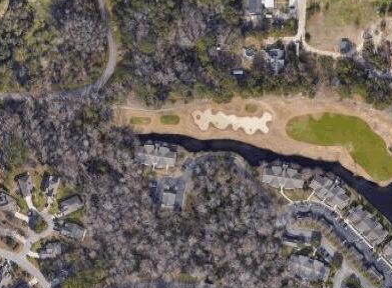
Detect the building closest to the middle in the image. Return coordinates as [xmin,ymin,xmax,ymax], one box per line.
[137,143,180,169]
